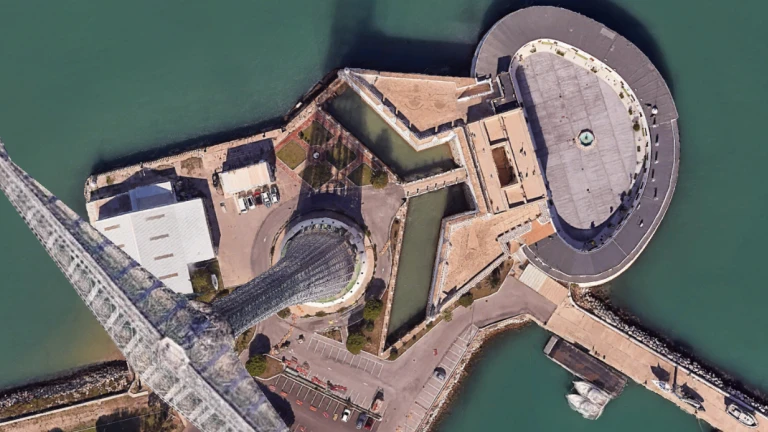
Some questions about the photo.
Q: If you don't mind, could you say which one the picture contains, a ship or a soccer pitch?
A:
ship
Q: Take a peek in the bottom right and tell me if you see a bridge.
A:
No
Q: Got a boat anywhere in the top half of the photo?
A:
No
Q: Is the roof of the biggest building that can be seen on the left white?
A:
Yes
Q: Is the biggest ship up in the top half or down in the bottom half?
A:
bottom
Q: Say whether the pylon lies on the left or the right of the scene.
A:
left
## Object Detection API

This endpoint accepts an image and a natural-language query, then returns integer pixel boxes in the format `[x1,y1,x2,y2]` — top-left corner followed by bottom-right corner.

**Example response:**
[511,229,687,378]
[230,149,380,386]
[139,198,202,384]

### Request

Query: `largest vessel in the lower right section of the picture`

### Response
[542,334,625,396]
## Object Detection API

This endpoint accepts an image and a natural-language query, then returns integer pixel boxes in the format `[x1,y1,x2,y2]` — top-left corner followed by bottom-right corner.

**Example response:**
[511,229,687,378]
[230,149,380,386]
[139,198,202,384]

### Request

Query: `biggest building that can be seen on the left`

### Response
[93,196,222,296]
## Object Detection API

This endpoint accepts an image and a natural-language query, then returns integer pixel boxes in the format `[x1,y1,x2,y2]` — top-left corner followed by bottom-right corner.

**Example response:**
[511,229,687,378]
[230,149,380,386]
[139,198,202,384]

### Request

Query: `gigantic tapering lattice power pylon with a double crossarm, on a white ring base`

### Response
[0,138,365,432]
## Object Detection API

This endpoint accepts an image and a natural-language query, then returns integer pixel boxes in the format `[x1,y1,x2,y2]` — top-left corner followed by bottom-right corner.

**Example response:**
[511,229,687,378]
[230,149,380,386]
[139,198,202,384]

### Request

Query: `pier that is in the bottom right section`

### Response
[544,284,768,432]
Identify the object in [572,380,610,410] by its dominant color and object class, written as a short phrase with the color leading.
white boat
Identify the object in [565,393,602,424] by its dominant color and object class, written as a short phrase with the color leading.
white boat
